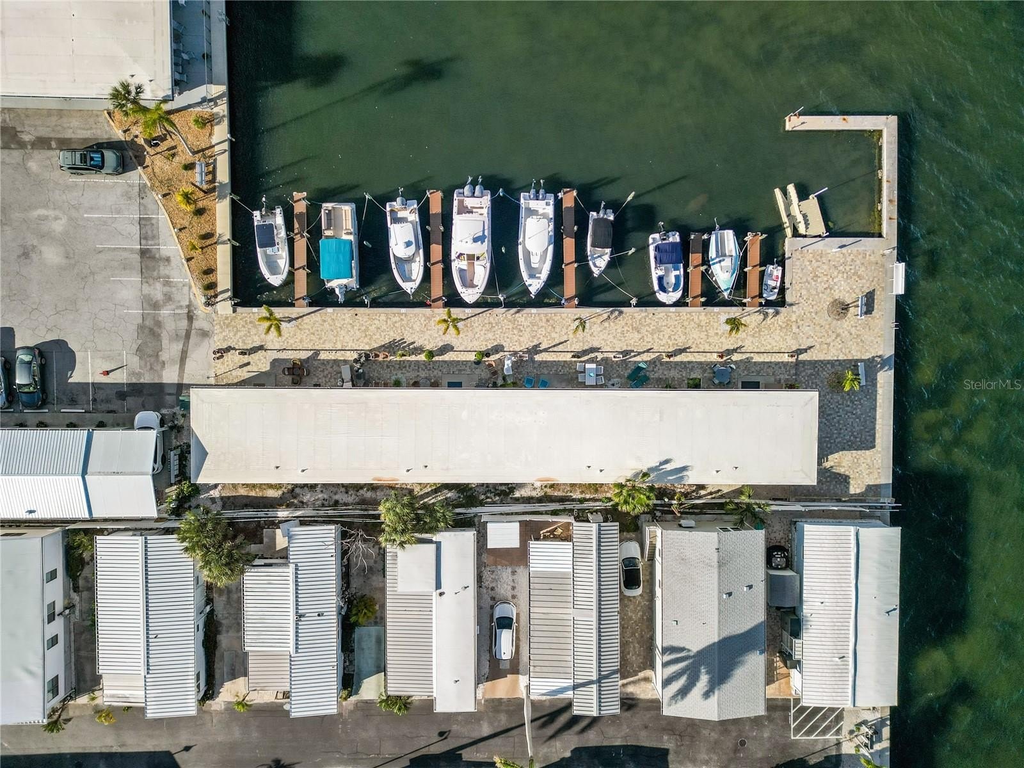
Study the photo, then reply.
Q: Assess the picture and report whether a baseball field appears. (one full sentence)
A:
No, I can't see a single baseball field in this photo.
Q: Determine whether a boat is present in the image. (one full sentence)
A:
Yes, there is a boat in the image.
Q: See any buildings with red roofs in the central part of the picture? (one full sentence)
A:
No, no building with a red roof appears in the central part of the picture.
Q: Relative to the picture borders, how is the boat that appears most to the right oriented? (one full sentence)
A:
I'd say the boat that appears most to the right is aligned up and down in the picture.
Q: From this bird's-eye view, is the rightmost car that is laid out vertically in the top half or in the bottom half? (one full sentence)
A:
The rightmost car that is laid out vertically is in the bottom half of the image.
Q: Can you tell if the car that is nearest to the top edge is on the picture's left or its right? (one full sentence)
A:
The car that is nearest to the top edge is on the left side of the image.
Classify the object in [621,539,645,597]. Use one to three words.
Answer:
car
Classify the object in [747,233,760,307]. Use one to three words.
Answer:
pier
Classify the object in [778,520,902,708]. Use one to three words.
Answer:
house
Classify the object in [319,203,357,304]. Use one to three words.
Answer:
boat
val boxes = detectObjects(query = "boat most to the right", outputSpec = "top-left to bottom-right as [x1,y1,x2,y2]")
[761,256,781,301]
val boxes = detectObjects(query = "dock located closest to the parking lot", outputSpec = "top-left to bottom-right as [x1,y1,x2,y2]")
[293,192,308,307]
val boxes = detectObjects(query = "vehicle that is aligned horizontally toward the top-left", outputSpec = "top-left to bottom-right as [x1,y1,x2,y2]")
[59,146,125,177]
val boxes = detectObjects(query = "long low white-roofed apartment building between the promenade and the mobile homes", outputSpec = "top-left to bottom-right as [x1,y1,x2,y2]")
[191,388,818,484]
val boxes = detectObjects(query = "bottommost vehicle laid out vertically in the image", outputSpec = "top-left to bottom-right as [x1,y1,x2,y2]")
[490,600,519,660]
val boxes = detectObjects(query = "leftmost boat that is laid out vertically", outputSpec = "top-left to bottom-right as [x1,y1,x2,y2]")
[253,196,292,286]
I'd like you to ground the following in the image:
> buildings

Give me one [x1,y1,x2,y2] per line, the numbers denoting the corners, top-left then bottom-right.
[0,533,67,725]
[243,523,346,715]
[487,519,520,549]
[386,526,481,711]
[642,523,767,719]
[778,520,902,708]
[0,428,177,520]
[94,532,211,718]
[191,388,818,484]
[528,521,621,717]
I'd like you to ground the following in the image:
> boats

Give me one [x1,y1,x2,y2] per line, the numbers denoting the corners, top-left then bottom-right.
[450,167,494,302]
[648,218,684,304]
[761,256,781,301]
[709,222,740,299]
[516,178,554,299]
[253,196,292,286]
[386,183,425,297]
[585,201,613,278]
[319,203,357,304]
